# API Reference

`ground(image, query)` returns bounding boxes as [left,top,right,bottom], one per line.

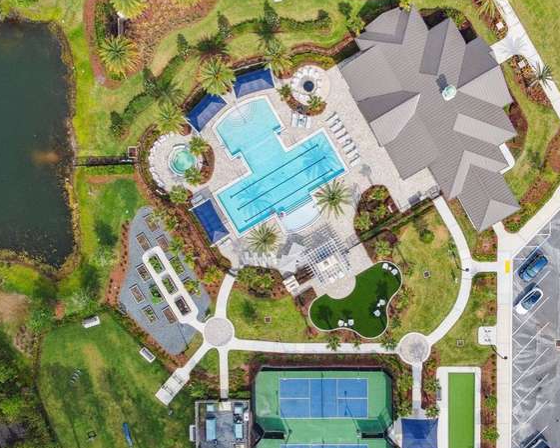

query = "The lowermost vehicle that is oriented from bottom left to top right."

[515,285,545,314]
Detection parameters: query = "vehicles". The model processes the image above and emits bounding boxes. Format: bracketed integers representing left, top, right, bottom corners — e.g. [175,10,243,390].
[515,285,545,314]
[520,253,551,282]
[532,439,551,448]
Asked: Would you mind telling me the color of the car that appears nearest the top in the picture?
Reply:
blue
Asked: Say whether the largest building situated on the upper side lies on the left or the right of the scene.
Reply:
right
